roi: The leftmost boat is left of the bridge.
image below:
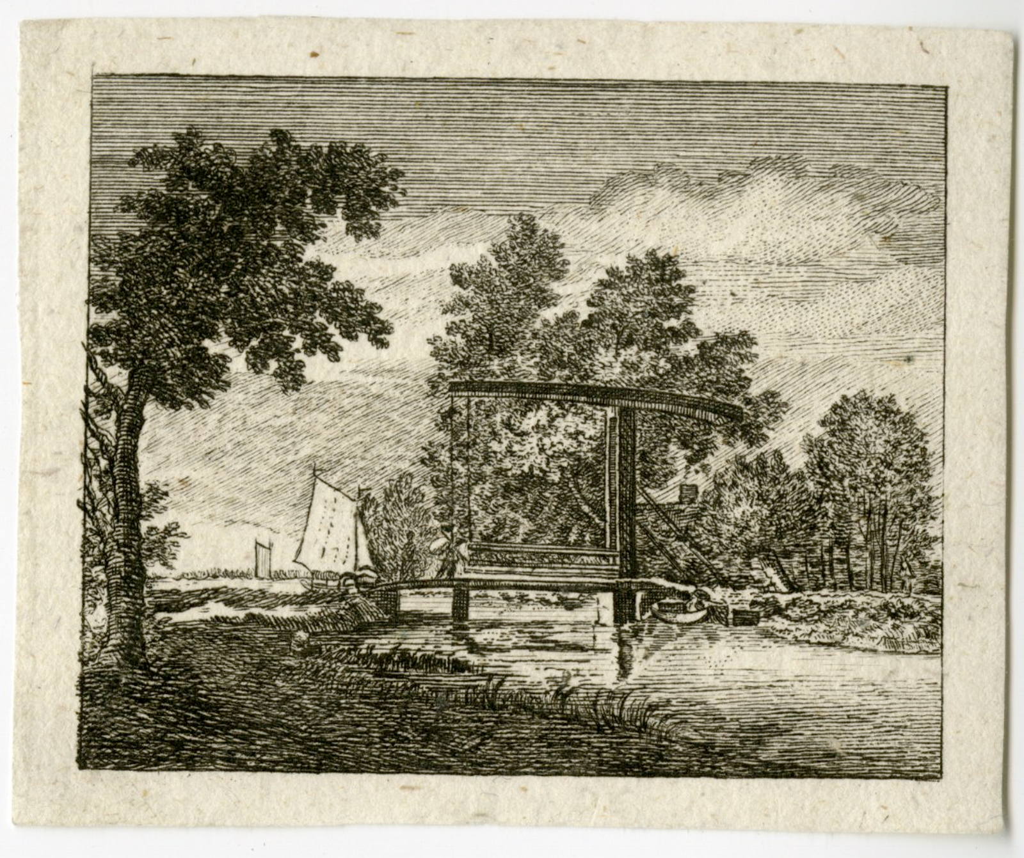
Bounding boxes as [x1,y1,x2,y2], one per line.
[255,539,272,580]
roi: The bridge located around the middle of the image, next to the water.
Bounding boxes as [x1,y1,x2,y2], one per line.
[360,381,744,625]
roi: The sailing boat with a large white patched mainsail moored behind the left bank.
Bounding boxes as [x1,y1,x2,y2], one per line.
[293,465,379,596]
